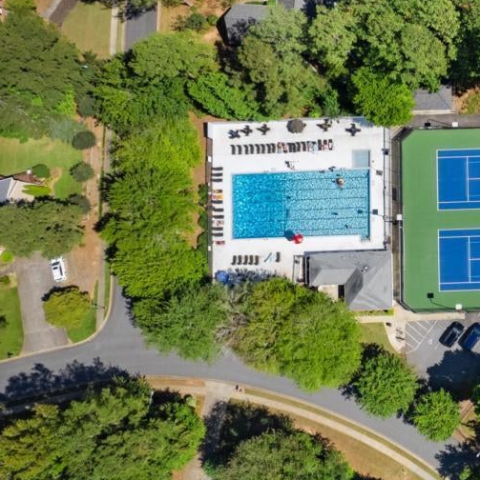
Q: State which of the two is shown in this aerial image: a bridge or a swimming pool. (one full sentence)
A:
Looking from above, you can make out a swimming pool.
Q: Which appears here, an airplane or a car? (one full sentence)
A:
This aerial view contains a car.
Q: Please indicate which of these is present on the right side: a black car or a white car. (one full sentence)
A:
Visible on the right side is a black car.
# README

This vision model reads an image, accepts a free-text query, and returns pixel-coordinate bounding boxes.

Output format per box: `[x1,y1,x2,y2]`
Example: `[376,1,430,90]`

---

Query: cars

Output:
[48,255,68,285]
[462,322,480,352]
[442,320,465,350]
